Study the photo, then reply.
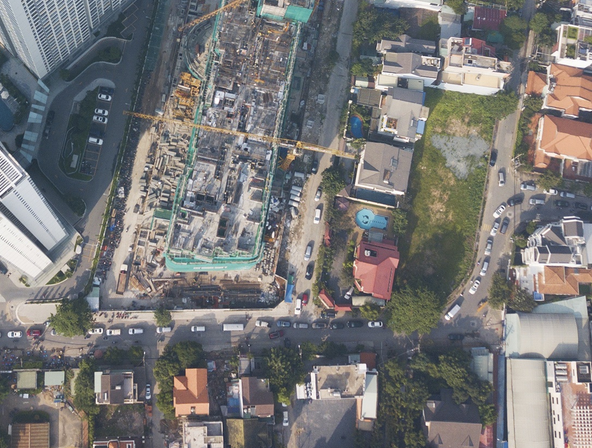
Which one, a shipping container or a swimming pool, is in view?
swimming pool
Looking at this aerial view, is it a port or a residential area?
residential area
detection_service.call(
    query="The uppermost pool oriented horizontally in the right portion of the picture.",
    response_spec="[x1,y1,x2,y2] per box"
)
[352,190,399,209]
